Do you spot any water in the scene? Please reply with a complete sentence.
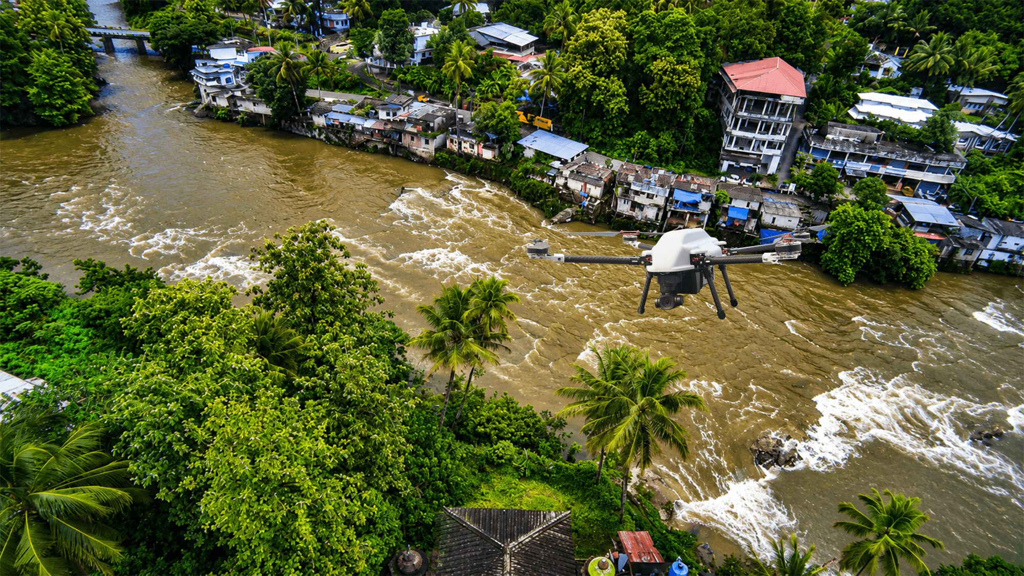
Yes, water can be seen from above here.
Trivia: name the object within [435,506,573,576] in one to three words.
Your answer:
house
